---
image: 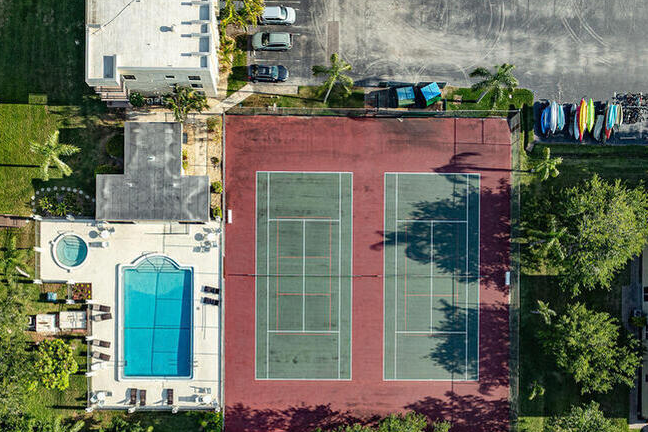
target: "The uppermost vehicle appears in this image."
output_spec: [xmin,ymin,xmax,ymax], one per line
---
[259,3,295,23]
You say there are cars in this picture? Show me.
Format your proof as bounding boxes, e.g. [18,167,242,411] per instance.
[254,29,291,49]
[248,60,288,81]
[259,3,295,23]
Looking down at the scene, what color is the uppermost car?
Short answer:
white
